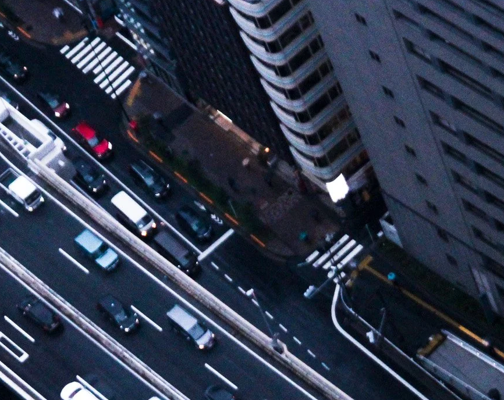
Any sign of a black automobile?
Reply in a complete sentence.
Yes, a black automobile is visible in the scene.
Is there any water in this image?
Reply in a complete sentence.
No, no water is visible.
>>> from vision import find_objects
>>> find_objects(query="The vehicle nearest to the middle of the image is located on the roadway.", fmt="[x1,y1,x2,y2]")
[171,203,218,244]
